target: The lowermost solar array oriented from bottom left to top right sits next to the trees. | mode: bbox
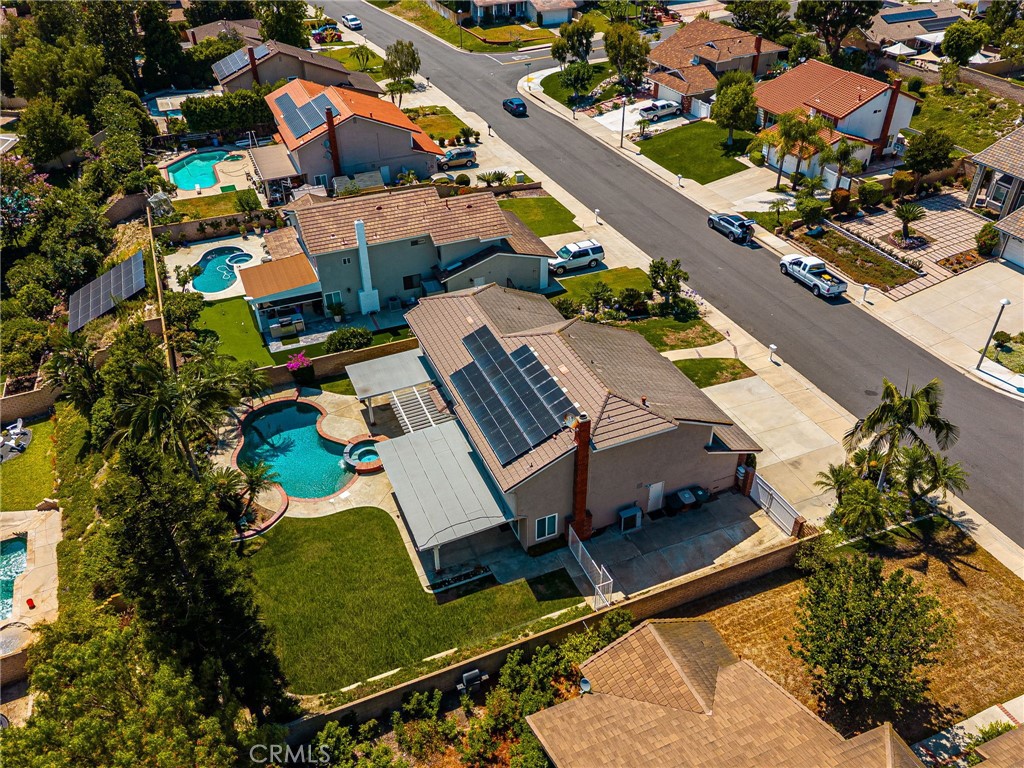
[65,256,144,339]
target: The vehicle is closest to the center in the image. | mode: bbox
[549,236,608,271]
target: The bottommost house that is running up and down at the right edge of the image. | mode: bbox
[963,124,1024,271]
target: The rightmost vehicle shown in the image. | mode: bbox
[777,260,842,299]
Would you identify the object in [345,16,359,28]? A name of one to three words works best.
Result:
vehicle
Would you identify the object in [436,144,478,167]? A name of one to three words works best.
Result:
car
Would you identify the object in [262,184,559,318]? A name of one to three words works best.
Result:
house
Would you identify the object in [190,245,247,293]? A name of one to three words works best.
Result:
swimming pool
